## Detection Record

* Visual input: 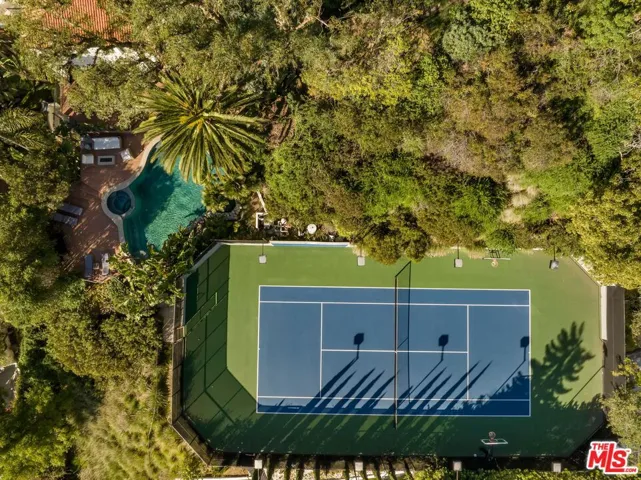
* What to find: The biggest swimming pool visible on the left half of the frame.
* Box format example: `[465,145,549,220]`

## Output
[116,137,217,260]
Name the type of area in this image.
sports ground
